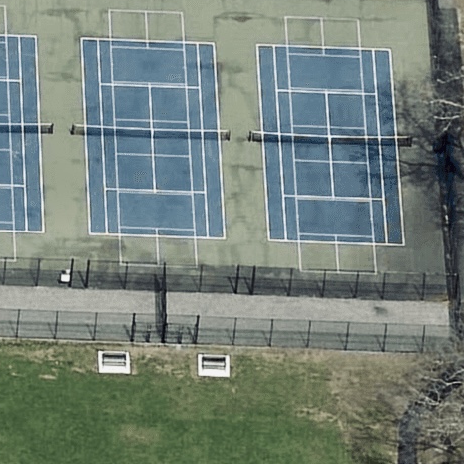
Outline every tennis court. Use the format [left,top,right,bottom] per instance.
[258,16,405,276]
[81,10,226,269]
[0,6,45,263]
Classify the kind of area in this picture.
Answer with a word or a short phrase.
sports ground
